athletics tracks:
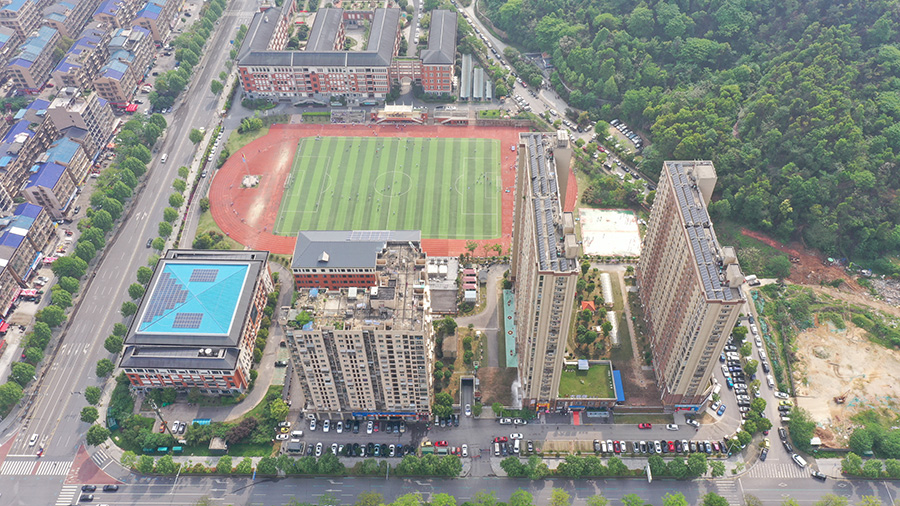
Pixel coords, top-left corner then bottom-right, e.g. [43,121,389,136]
[209,124,579,258]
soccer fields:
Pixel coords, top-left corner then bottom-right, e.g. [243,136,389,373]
[270,137,503,238]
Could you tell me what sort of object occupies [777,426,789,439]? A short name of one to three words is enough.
vehicle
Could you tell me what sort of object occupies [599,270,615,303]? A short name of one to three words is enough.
greenhouse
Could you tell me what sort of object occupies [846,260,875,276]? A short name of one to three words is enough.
work vehicle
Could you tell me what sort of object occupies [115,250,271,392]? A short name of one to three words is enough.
building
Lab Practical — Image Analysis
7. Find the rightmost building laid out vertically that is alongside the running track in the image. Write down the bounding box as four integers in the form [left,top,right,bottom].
[636,154,757,413]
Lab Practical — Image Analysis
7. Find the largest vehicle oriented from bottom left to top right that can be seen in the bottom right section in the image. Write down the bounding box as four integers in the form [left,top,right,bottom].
[831,387,854,405]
